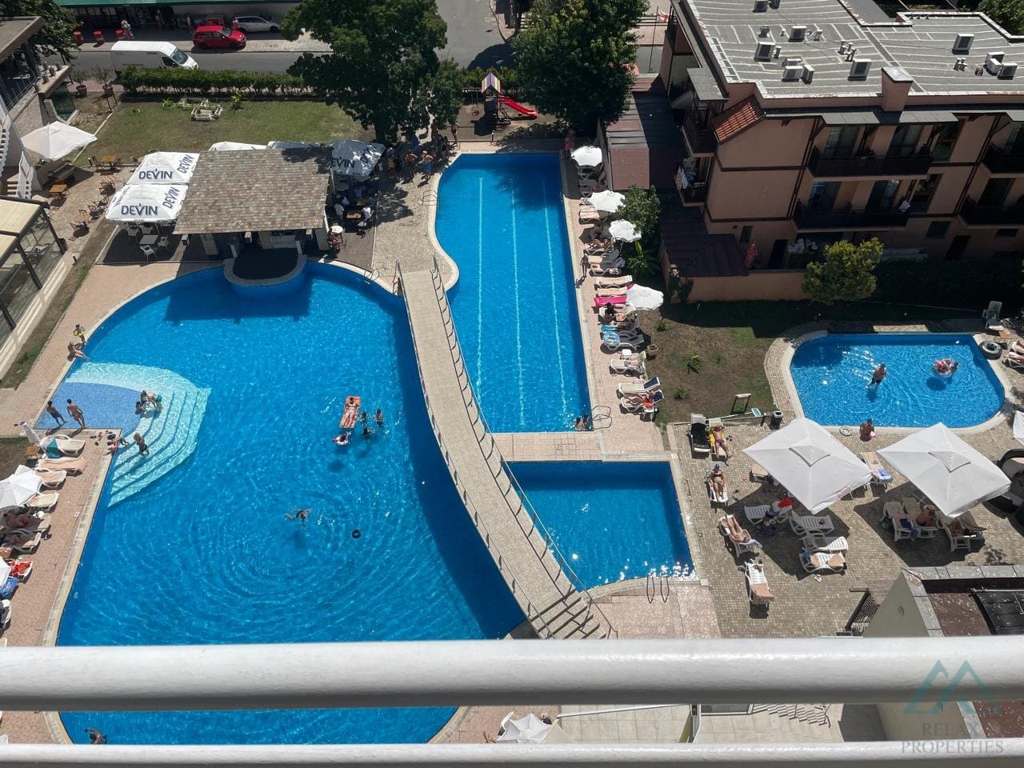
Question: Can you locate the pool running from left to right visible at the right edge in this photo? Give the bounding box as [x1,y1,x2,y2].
[791,335,1004,426]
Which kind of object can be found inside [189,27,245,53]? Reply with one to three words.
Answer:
car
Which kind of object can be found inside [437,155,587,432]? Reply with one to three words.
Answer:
swimming pool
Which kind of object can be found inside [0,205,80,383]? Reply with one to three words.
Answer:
building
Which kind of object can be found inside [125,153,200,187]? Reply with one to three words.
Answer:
umbrella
